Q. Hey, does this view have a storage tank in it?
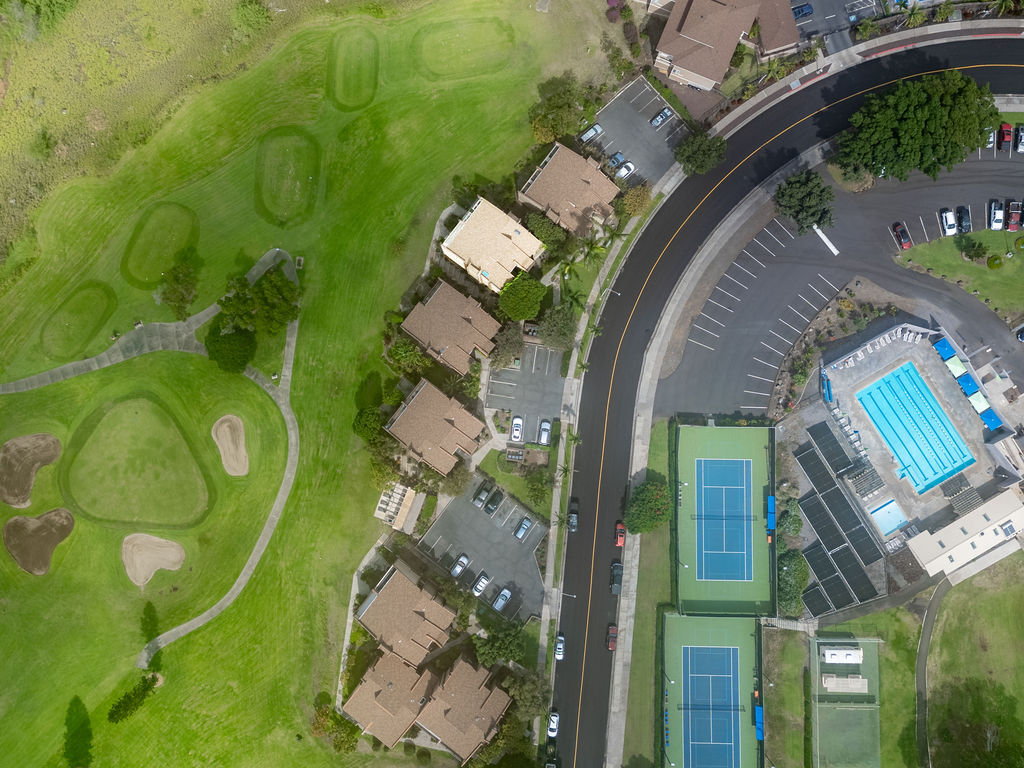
No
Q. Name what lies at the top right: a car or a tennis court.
car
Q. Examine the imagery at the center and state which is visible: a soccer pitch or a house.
house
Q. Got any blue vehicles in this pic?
Yes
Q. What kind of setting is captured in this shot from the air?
golf course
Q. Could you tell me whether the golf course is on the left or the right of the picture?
left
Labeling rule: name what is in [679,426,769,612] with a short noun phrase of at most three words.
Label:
tennis court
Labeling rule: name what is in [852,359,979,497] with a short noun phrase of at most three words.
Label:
swimming pool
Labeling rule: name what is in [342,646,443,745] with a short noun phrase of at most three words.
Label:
house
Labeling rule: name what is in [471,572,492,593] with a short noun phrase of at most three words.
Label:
car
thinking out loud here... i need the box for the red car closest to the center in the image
[614,523,626,548]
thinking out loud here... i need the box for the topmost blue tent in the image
[932,337,957,361]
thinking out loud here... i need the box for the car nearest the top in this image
[795,4,815,20]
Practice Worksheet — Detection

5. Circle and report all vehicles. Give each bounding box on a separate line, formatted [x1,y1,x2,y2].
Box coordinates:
[999,124,1013,153]
[795,4,815,20]
[606,151,627,170]
[939,210,956,236]
[893,224,910,249]
[511,416,522,441]
[1014,325,1024,347]
[649,109,670,129]
[1019,202,1024,227]
[579,122,604,145]
[512,515,534,541]
[484,489,505,513]
[473,480,496,507]
[547,711,558,736]
[545,736,556,761]
[554,633,565,657]
[567,509,579,534]
[954,206,970,232]
[1005,202,1022,231]
[987,201,1003,230]
[471,572,492,593]
[614,159,636,179]
[492,586,512,613]
[539,419,551,444]
[606,624,618,649]
[614,523,626,548]
[609,563,622,593]
[450,553,470,575]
